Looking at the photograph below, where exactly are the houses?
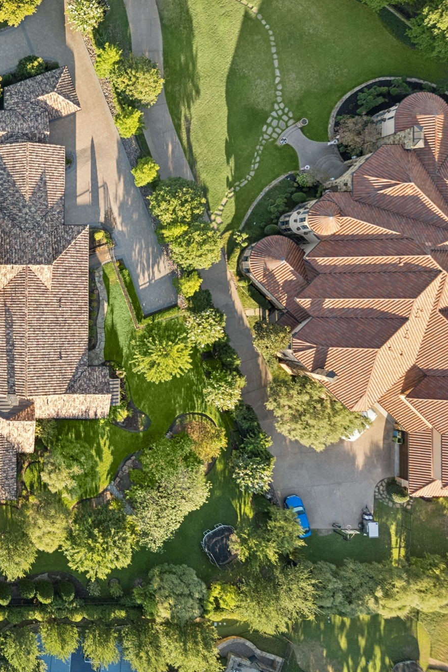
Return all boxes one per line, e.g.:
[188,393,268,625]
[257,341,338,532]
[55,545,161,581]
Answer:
[0,64,121,501]
[239,92,448,498]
